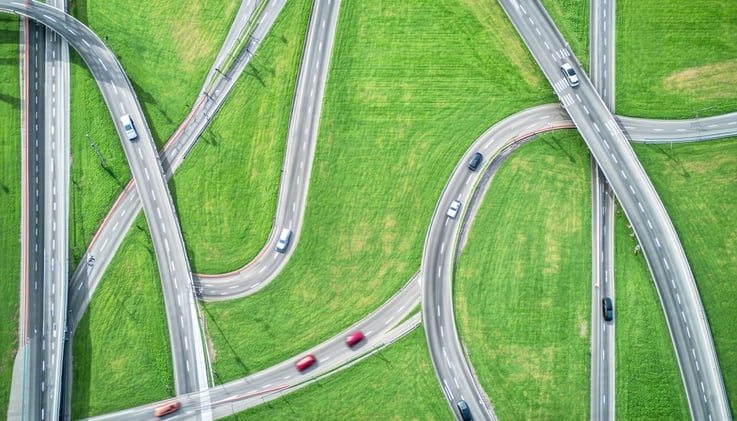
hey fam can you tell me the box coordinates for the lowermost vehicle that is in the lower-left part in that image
[154,400,181,416]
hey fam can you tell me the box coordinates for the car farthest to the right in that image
[602,296,614,322]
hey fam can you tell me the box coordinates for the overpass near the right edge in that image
[497,0,735,421]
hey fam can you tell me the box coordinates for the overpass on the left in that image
[0,0,202,399]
